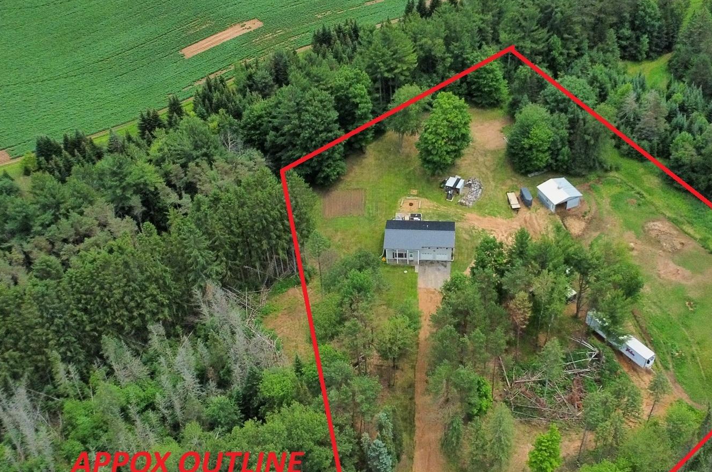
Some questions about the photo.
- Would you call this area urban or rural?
rural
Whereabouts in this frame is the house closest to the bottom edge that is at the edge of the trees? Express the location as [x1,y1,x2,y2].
[384,219,454,265]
